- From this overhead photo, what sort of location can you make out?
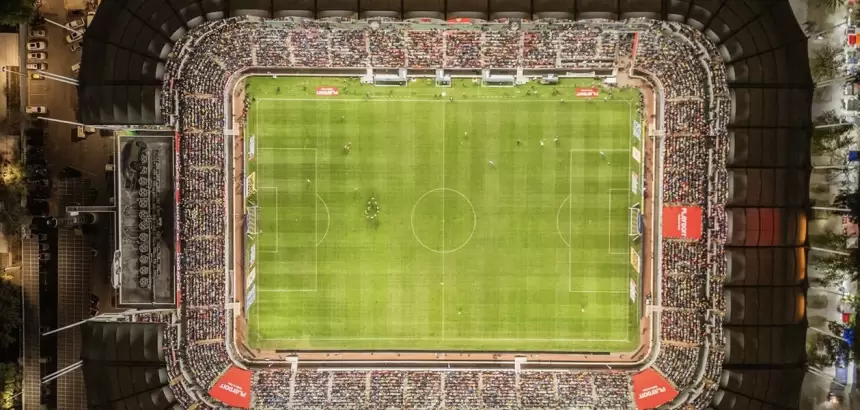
sports ground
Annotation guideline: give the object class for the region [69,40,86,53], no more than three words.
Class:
vehicle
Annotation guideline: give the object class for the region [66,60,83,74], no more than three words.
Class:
vehicle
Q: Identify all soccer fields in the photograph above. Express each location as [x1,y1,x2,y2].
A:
[245,76,643,351]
